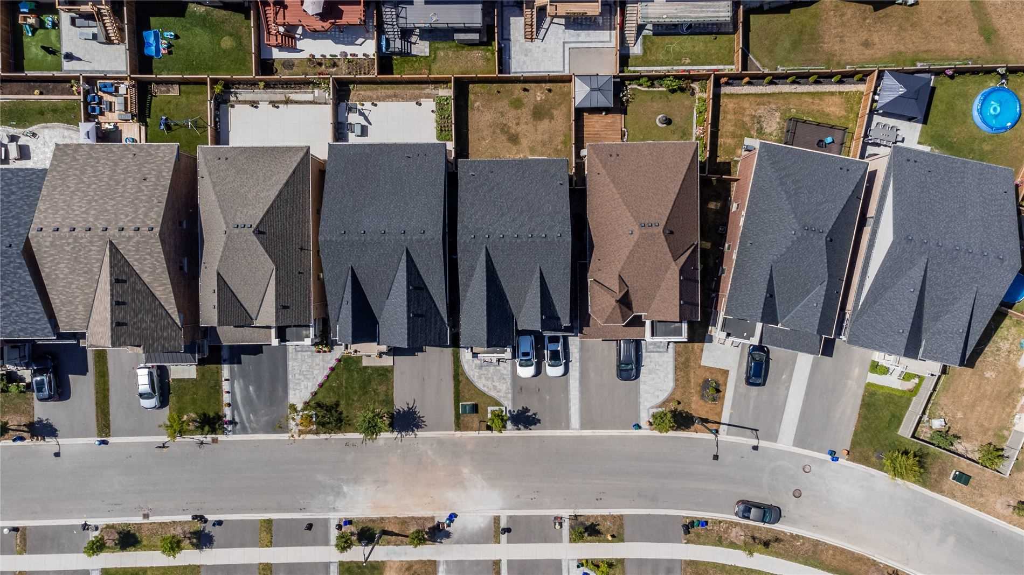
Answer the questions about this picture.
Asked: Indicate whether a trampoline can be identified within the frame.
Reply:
No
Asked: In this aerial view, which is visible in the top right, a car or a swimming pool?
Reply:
swimming pool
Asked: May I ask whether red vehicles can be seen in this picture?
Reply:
No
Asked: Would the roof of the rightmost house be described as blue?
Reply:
No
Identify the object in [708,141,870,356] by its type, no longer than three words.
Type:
house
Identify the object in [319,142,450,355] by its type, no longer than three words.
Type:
house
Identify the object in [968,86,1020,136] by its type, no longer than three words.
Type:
swimming pool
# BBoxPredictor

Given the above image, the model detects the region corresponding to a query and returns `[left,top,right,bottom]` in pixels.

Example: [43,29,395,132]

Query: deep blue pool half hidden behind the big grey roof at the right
[1001,272,1024,305]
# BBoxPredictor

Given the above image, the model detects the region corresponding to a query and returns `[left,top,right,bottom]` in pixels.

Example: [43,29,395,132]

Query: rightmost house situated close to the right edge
[823,144,1021,376]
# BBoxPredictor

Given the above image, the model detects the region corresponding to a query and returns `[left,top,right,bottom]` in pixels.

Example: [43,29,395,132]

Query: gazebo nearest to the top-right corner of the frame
[869,71,932,122]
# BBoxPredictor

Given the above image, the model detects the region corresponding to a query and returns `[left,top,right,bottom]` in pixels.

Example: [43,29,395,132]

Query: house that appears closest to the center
[457,158,575,363]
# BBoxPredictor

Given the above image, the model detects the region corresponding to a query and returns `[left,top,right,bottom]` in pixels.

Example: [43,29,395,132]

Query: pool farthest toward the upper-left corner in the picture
[141,27,164,59]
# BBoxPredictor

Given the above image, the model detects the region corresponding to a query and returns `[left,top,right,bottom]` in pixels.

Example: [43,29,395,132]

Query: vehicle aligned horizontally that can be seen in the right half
[733,498,781,526]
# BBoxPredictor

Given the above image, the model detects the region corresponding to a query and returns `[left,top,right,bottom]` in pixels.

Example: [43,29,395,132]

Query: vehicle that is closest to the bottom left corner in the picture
[31,354,61,403]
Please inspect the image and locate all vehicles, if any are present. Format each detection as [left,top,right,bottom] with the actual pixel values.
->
[616,340,639,381]
[544,334,566,377]
[515,334,537,377]
[136,365,162,409]
[745,343,769,387]
[733,498,781,526]
[31,354,61,403]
